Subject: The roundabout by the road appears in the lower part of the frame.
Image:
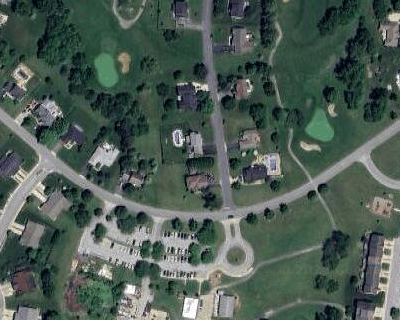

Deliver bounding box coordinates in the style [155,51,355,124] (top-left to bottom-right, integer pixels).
[219,218,254,273]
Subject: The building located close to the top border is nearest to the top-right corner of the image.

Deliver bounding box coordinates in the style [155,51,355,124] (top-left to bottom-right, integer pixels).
[384,14,400,46]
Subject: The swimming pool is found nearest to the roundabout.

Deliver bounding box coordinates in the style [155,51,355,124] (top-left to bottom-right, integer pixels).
[265,152,281,175]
